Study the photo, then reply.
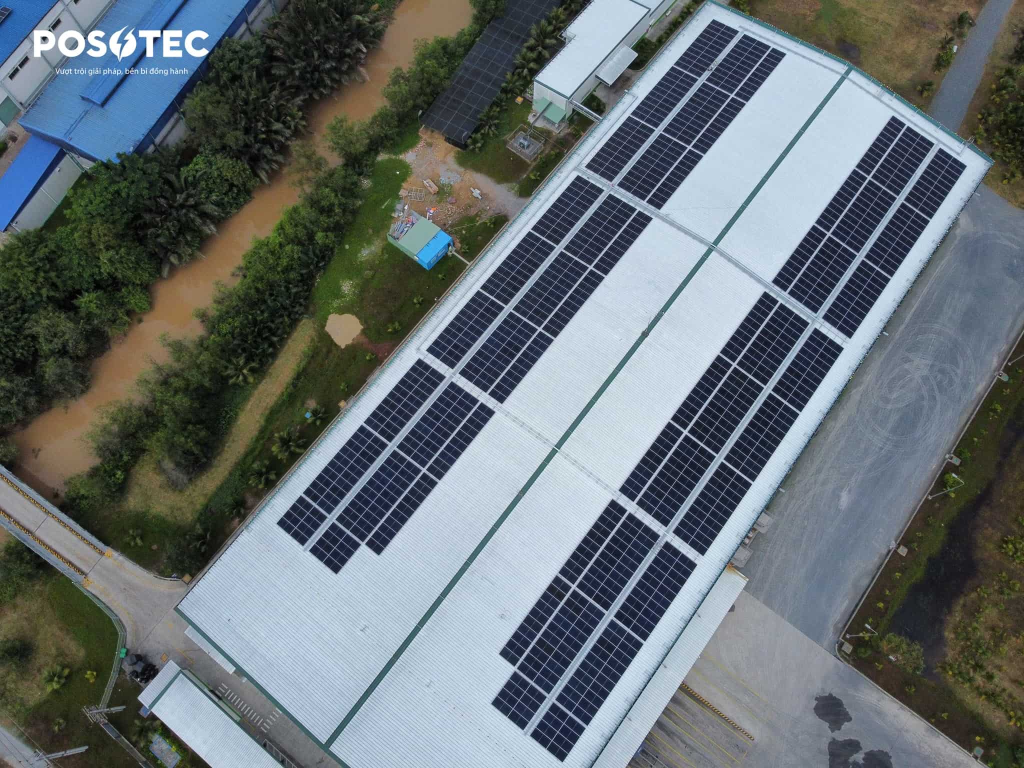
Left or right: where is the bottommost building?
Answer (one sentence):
The bottommost building appears in the left half of the scene.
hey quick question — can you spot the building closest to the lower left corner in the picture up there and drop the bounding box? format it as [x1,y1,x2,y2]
[138,659,297,768]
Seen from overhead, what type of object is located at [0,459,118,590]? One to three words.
bridge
